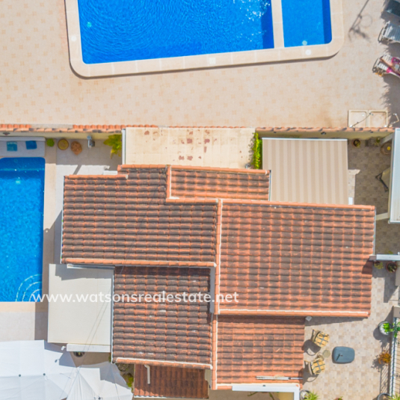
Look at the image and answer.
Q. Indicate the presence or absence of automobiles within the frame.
No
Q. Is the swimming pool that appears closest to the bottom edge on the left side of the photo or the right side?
left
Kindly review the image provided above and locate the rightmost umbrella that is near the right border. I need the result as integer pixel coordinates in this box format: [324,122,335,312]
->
[375,171,390,190]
